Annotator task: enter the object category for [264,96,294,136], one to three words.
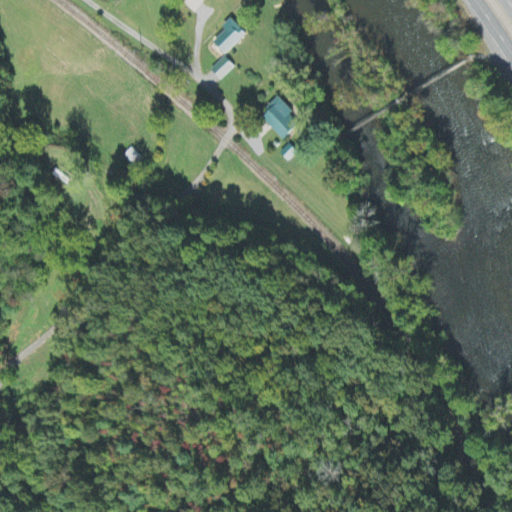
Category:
house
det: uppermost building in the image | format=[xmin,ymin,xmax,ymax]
[214,20,245,52]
